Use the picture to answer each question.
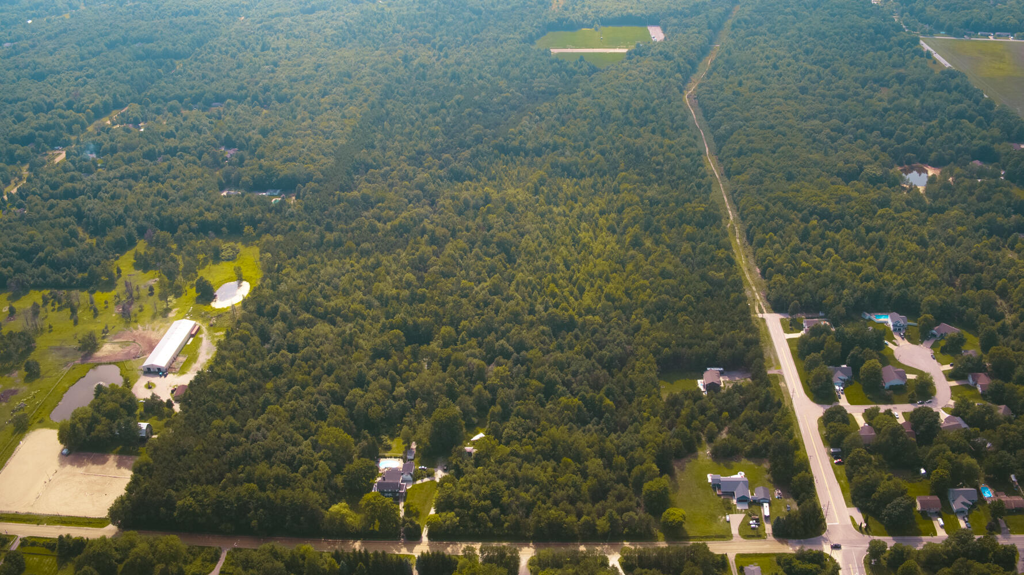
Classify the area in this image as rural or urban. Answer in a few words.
rural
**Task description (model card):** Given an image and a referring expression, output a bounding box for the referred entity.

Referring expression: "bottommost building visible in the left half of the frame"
[372,464,416,502]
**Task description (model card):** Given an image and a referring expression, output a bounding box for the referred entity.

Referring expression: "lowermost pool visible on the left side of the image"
[376,458,402,471]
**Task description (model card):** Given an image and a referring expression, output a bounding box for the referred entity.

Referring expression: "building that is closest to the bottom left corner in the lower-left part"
[129,423,157,443]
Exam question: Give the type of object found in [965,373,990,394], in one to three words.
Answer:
house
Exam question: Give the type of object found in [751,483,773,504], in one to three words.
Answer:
building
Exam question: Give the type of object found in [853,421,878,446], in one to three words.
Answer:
house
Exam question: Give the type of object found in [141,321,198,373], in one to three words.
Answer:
barn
